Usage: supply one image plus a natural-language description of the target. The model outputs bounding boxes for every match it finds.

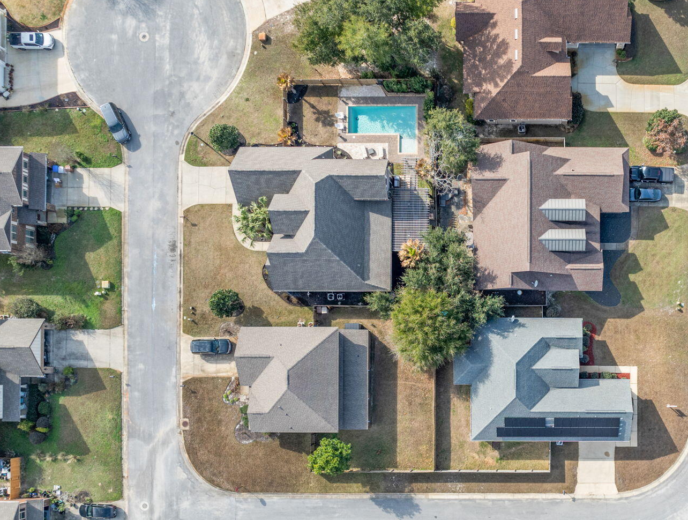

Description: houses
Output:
[0,496,54,520]
[453,317,633,442]
[234,326,369,433]
[0,4,8,91]
[0,146,56,254]
[470,139,629,292]
[0,318,58,422]
[455,0,631,124]
[227,146,395,292]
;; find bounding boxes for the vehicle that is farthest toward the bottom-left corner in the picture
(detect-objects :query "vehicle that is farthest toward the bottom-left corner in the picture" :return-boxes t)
[80,502,121,520]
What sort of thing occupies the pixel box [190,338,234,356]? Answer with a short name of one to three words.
car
